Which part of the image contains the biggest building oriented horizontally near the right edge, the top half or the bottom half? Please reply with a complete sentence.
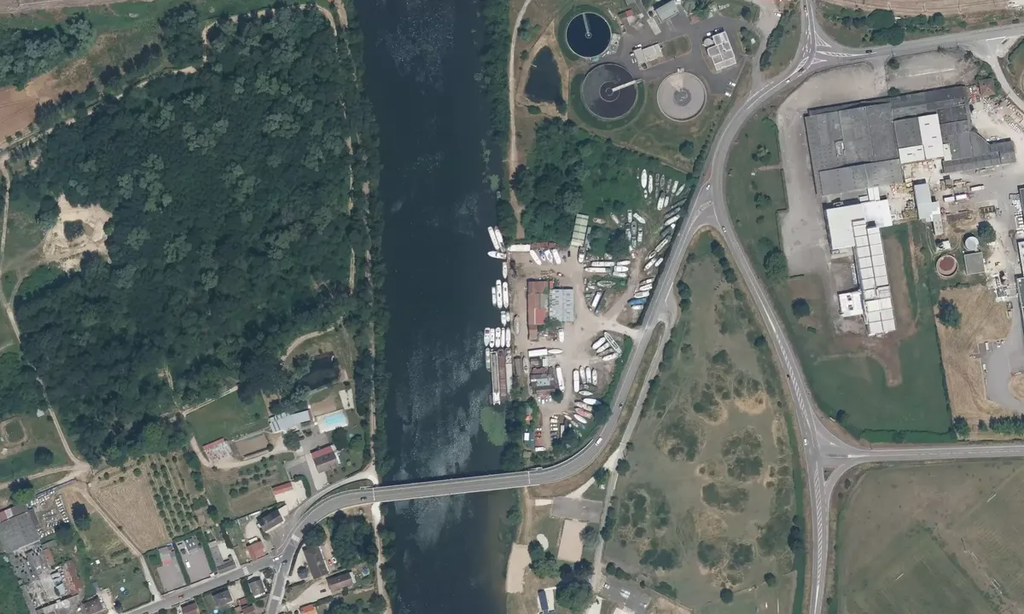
Seen from above, the biggest building oriented horizontally near the right edge lies in the top half of the view.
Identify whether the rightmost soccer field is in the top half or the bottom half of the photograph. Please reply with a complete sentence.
It is in the bottom half that the rightmost soccer field appears.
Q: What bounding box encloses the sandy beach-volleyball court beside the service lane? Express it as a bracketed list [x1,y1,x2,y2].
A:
[557,520,587,561]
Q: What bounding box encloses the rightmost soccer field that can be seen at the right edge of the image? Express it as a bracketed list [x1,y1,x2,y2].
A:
[955,473,1024,613]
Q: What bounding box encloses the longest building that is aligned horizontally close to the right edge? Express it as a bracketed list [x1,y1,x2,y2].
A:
[804,84,1016,196]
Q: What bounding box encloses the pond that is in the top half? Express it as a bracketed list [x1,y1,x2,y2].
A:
[524,46,563,103]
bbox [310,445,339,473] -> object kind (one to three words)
house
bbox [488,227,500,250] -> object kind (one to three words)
boat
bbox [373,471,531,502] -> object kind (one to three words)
bridge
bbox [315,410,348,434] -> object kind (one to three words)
swimming pool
